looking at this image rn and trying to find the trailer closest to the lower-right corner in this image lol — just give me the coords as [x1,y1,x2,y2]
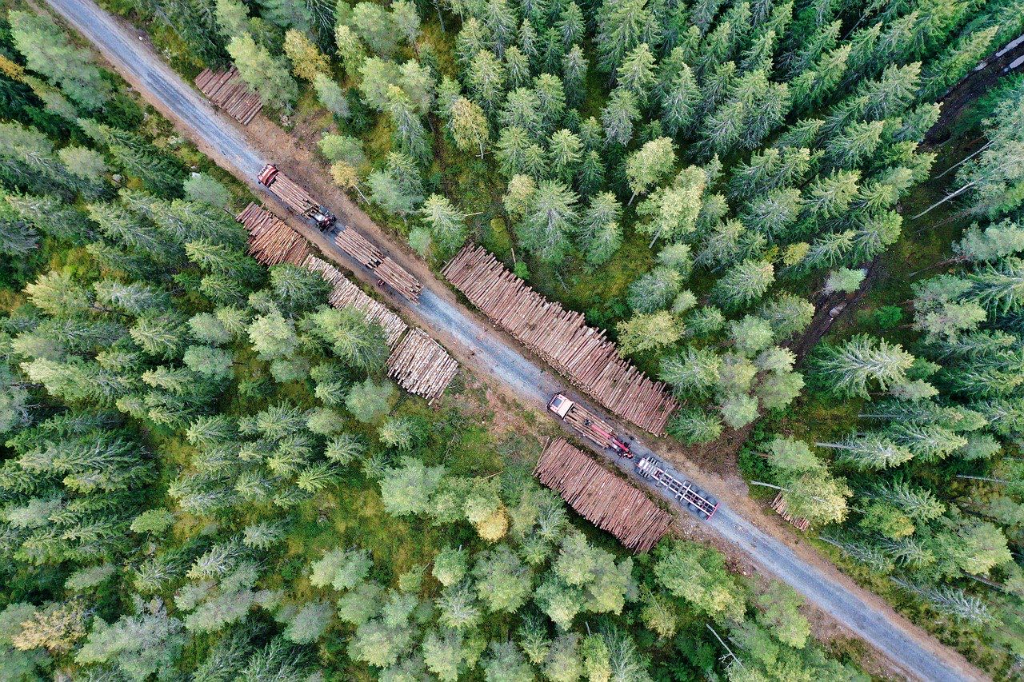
[630,457,726,526]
